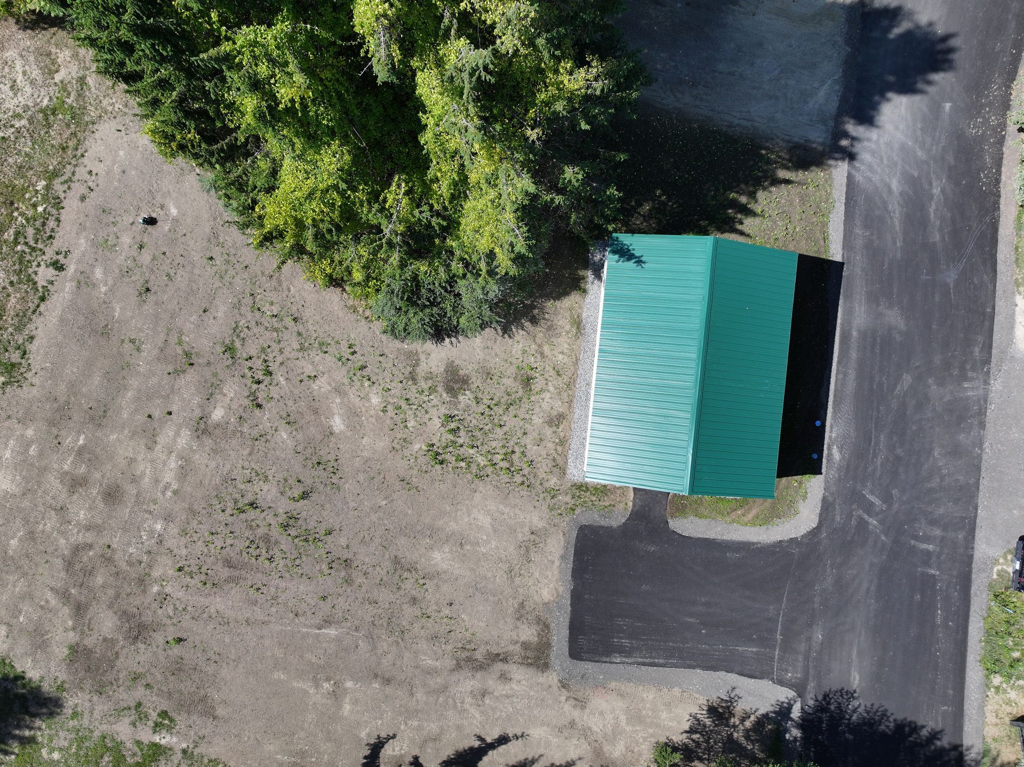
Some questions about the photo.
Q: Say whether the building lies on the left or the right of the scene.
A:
right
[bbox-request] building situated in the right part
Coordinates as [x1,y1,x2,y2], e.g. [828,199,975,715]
[583,232,799,500]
